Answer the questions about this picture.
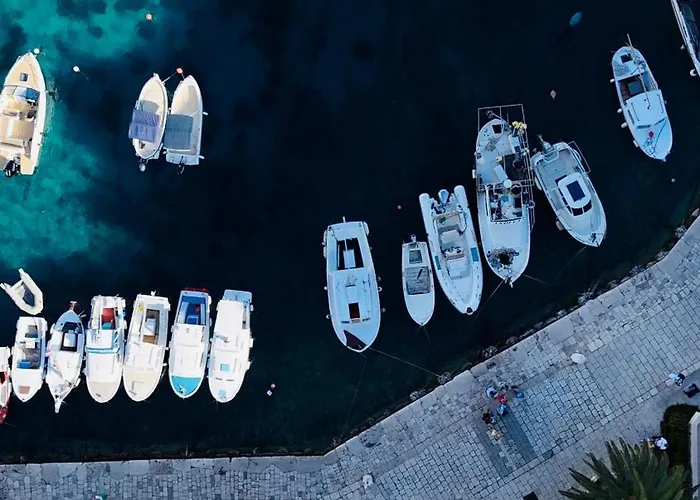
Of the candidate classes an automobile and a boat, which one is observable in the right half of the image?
boat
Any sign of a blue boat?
Yes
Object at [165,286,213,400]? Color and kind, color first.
white boat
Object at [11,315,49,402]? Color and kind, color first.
white boat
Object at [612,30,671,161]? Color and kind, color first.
blue boat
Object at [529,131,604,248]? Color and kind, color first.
blue boat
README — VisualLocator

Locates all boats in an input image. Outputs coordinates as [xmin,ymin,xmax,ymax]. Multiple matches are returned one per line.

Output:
[46,300,84,412]
[400,233,435,327]
[204,289,257,404]
[11,315,49,402]
[165,286,213,400]
[612,30,671,161]
[472,97,543,288]
[0,267,44,317]
[0,51,46,185]
[420,176,485,316]
[321,215,385,352]
[130,72,168,174]
[120,291,171,404]
[162,74,206,177]
[81,295,128,404]
[0,345,13,419]
[529,131,604,248]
